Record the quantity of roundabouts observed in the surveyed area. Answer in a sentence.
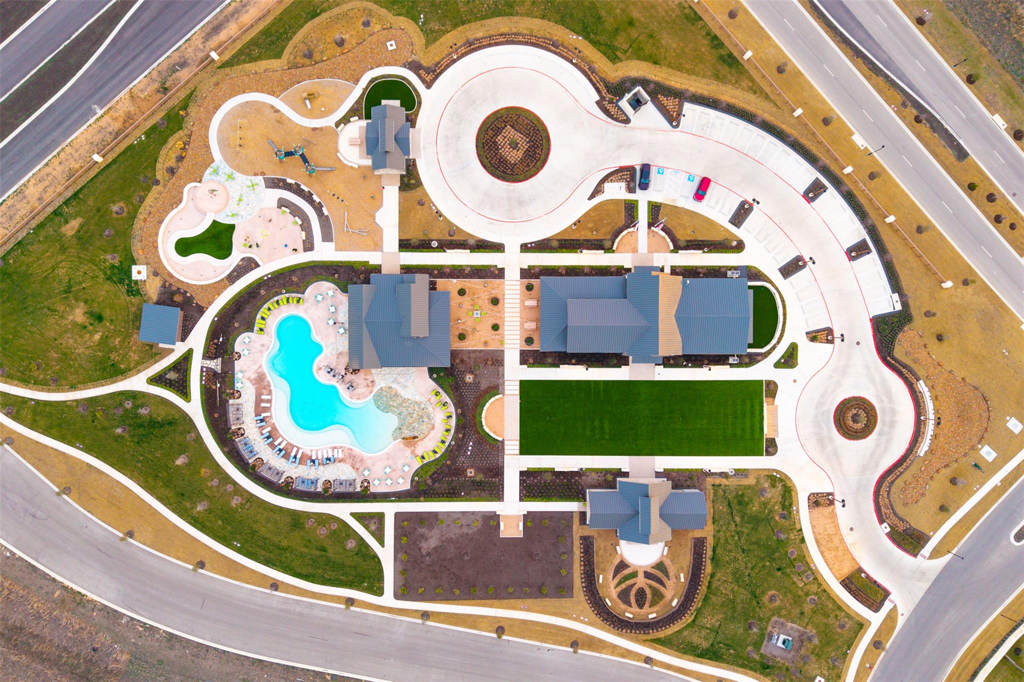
There are 2 roundabouts in the image.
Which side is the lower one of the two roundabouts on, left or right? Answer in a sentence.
The lower one of the two roundabouts is on the right side of the image.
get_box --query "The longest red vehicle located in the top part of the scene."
[694,176,712,203]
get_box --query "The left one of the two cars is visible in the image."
[638,163,651,191]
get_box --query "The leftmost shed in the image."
[140,304,185,345]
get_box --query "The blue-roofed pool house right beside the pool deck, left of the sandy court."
[345,273,450,369]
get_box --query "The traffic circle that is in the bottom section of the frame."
[797,360,914,477]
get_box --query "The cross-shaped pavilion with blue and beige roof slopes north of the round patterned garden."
[589,480,710,550]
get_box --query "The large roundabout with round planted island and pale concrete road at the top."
[437,68,589,220]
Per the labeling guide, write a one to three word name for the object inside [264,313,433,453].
swimming pool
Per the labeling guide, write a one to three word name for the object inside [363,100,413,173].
building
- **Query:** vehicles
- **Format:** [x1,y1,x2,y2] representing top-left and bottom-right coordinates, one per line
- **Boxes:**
[638,163,651,191]
[694,176,712,203]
